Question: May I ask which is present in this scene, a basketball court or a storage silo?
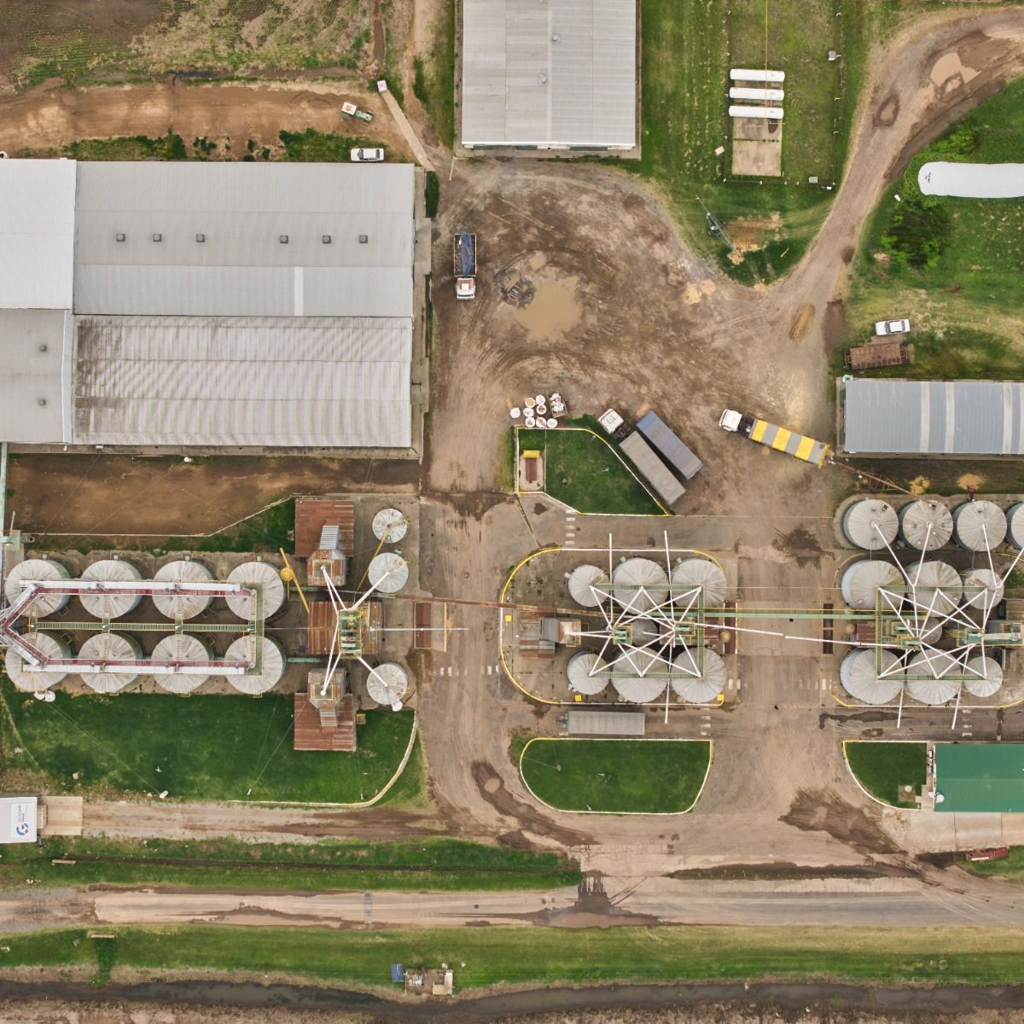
storage silo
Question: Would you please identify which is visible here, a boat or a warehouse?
warehouse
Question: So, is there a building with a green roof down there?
Yes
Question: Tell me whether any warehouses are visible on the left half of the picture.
Yes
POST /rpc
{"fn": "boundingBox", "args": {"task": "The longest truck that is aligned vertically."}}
[453,231,477,303]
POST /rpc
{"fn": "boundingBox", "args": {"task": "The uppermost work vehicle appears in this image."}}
[341,98,372,126]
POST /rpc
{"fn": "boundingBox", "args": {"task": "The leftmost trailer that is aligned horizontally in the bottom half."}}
[556,710,645,735]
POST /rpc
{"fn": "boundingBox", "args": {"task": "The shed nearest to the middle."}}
[523,450,540,481]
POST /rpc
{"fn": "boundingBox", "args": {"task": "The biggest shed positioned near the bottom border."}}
[404,969,453,999]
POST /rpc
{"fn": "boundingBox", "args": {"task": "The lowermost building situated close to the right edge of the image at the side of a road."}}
[933,742,1024,812]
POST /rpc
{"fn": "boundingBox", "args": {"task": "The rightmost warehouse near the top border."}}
[461,0,637,151]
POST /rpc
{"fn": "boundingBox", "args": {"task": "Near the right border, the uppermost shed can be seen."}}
[840,380,1024,454]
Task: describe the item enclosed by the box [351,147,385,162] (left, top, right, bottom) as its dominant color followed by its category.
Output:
white car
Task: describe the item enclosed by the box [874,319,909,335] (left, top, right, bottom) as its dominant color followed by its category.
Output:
white car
